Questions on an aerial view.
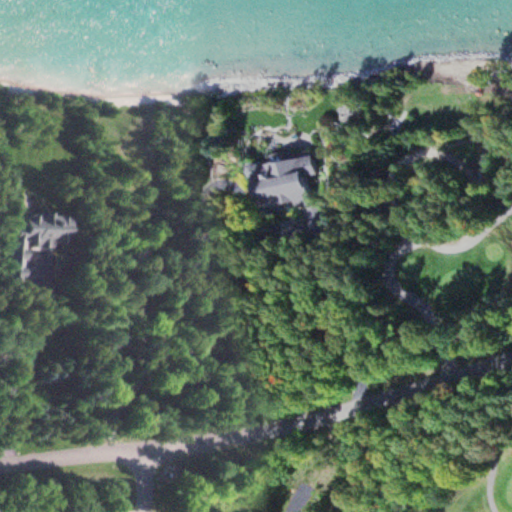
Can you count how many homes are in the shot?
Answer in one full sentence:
I count 2 homes.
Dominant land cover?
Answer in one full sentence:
For the most part, this view shows trees.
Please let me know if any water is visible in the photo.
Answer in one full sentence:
Yes, water shows up in the scene.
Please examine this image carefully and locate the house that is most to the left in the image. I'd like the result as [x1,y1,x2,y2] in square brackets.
[18,213,79,280]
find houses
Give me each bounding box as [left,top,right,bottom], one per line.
[254,152,319,208]
[18,213,79,280]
